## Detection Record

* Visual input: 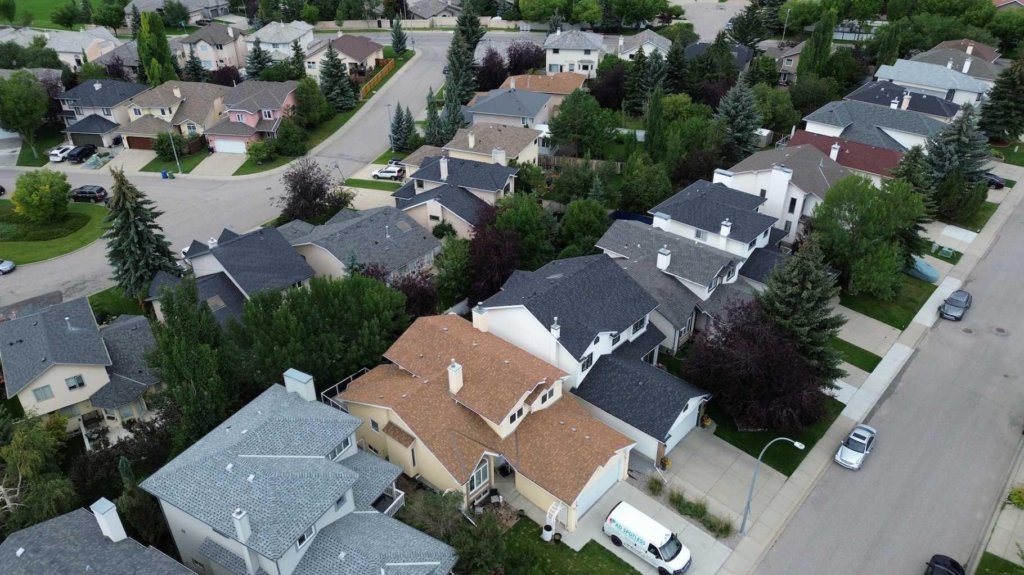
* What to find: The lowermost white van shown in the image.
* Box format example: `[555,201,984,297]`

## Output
[594,501,694,575]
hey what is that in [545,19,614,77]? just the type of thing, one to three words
house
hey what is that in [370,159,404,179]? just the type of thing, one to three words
car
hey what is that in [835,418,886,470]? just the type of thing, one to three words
car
